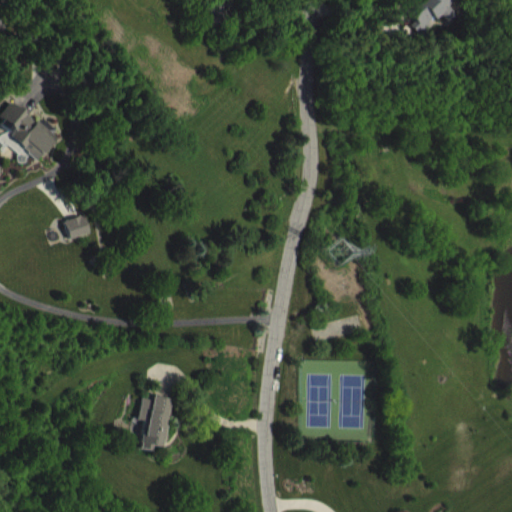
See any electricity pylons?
Yes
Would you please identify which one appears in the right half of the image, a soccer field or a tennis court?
tennis court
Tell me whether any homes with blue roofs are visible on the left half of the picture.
No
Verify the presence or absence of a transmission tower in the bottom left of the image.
No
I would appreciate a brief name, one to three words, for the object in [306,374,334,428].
tennis court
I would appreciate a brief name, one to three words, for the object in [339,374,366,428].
tennis court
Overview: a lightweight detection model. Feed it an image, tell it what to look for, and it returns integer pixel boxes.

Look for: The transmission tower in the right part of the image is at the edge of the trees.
[328,237,376,266]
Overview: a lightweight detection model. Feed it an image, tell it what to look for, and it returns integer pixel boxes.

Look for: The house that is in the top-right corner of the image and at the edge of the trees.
[412,0,456,31]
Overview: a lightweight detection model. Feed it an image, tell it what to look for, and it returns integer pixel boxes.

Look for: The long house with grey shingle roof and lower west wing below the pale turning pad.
[137,394,172,451]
